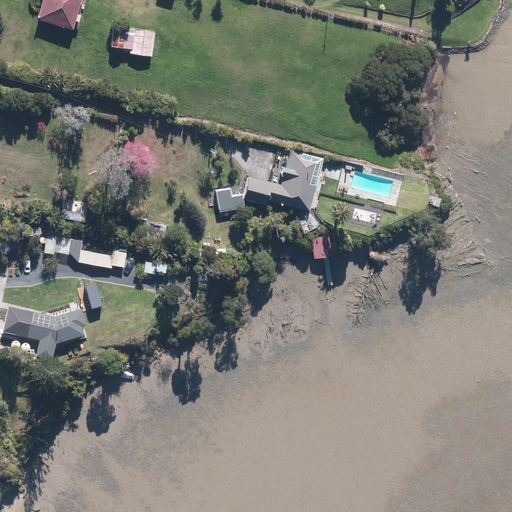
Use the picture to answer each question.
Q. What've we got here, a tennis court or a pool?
pool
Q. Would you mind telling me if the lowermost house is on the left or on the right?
left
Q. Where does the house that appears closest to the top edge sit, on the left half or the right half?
left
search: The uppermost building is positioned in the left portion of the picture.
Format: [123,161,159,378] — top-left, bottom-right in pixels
[38,0,84,29]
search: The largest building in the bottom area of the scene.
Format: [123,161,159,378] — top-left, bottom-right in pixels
[2,306,88,356]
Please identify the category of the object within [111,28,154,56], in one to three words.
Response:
shed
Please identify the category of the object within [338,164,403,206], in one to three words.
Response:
swimming pool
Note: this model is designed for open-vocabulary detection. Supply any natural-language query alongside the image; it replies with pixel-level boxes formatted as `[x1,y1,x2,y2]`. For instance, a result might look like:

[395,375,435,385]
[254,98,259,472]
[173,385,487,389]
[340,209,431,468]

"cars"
[24,260,31,274]
[124,259,135,276]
